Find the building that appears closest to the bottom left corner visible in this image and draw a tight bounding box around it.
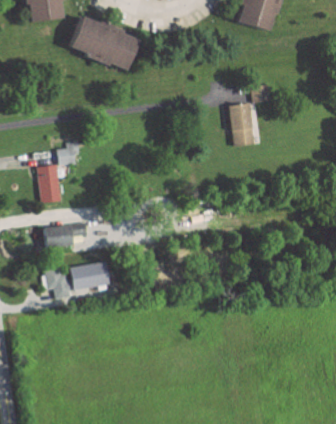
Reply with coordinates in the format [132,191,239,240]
[42,273,71,301]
